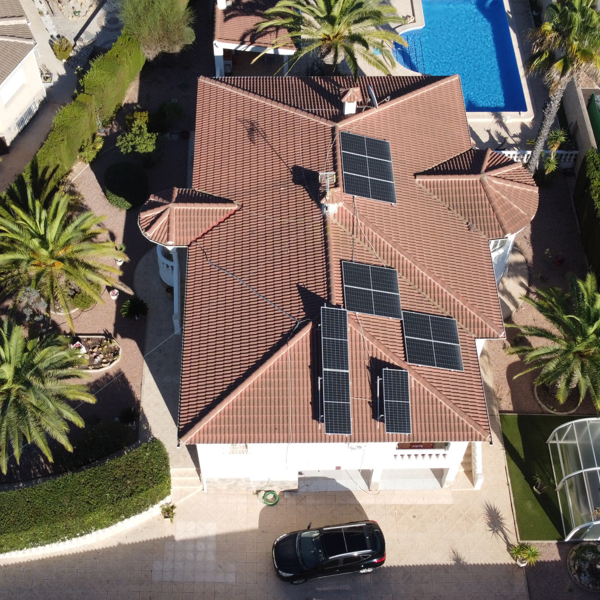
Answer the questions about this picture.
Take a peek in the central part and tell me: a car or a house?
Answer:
house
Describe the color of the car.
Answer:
black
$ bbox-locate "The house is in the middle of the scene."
[136,71,541,508]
